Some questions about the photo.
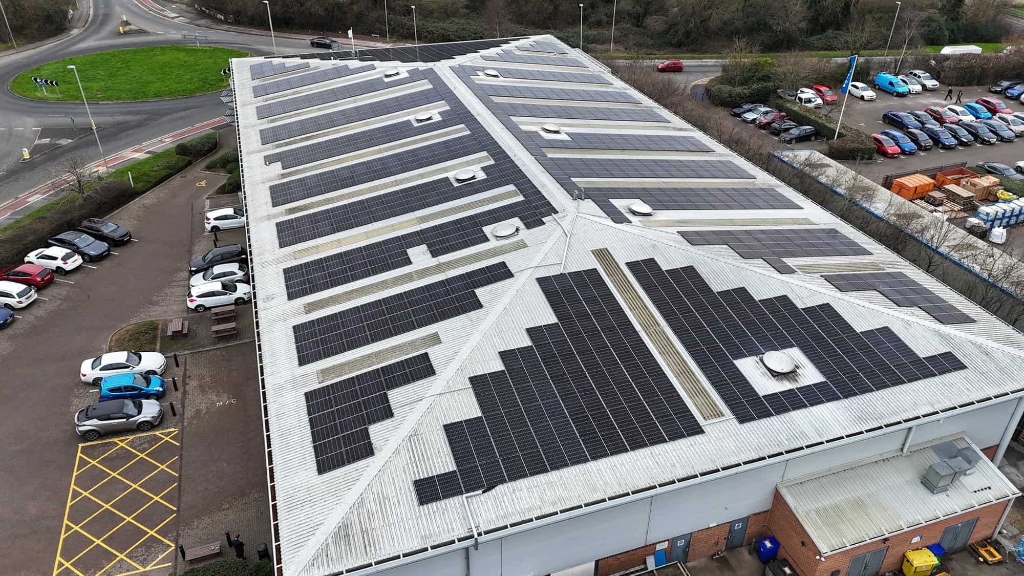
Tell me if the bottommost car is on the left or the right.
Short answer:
left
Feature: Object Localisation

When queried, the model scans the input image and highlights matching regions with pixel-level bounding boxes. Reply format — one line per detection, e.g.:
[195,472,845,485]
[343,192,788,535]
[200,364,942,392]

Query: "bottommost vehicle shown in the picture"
[76,398,158,441]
